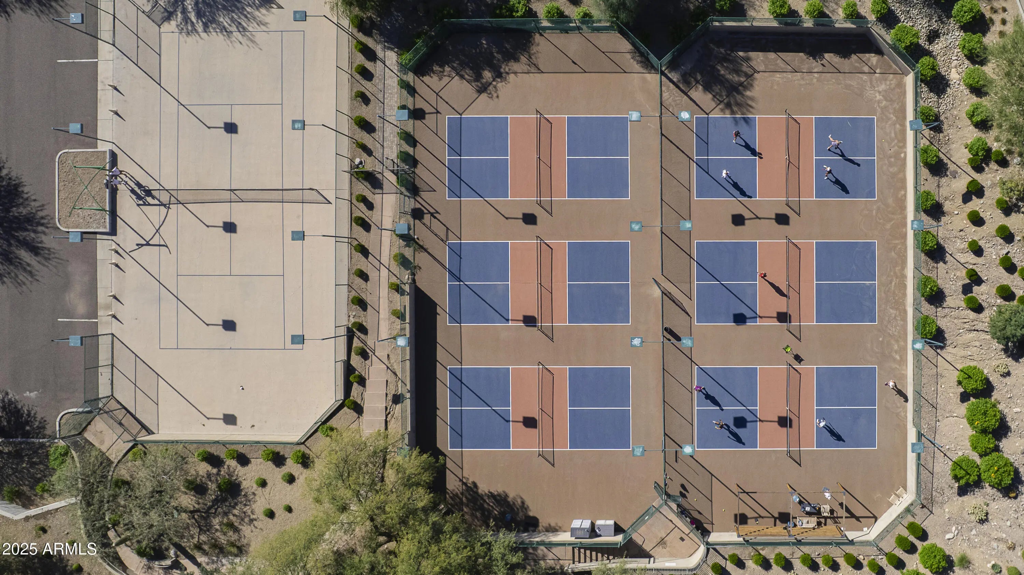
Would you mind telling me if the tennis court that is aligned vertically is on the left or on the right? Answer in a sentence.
It is on the left.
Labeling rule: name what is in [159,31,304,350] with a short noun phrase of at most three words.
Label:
tennis court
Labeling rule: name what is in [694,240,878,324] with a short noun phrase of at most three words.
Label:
sports court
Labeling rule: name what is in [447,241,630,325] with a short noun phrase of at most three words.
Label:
sports court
